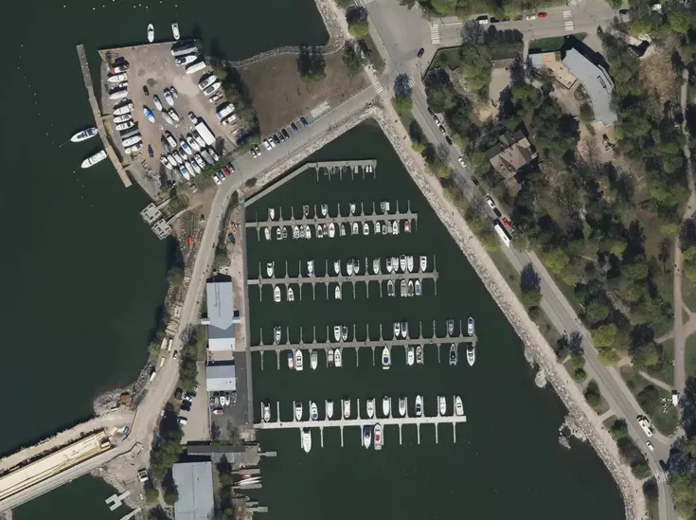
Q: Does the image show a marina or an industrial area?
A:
marina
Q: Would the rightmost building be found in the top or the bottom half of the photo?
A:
top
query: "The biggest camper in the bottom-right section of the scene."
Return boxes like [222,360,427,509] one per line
[637,416,653,437]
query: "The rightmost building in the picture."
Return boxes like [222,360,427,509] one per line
[563,48,618,124]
